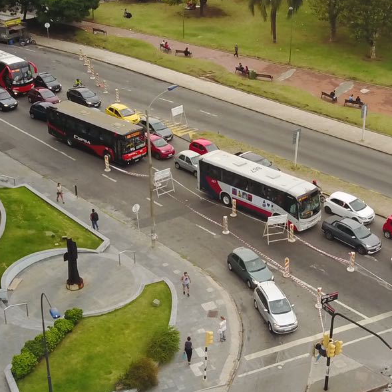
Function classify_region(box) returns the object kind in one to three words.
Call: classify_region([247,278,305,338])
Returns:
car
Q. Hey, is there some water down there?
No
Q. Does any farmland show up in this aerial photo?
No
